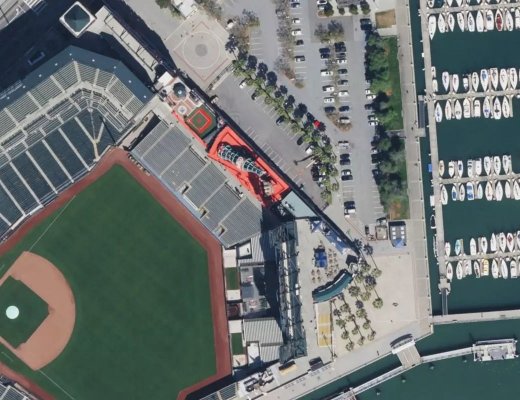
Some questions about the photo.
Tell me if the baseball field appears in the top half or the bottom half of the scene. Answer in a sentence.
Seen from above, the baseball field lies in the bottom half of the view.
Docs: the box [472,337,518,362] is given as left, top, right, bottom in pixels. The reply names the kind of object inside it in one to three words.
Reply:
ship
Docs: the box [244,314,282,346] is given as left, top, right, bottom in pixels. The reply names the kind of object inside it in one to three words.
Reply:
shed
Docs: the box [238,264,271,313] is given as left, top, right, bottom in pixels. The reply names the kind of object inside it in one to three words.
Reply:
building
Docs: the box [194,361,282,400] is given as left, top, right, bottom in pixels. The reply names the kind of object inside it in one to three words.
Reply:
building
